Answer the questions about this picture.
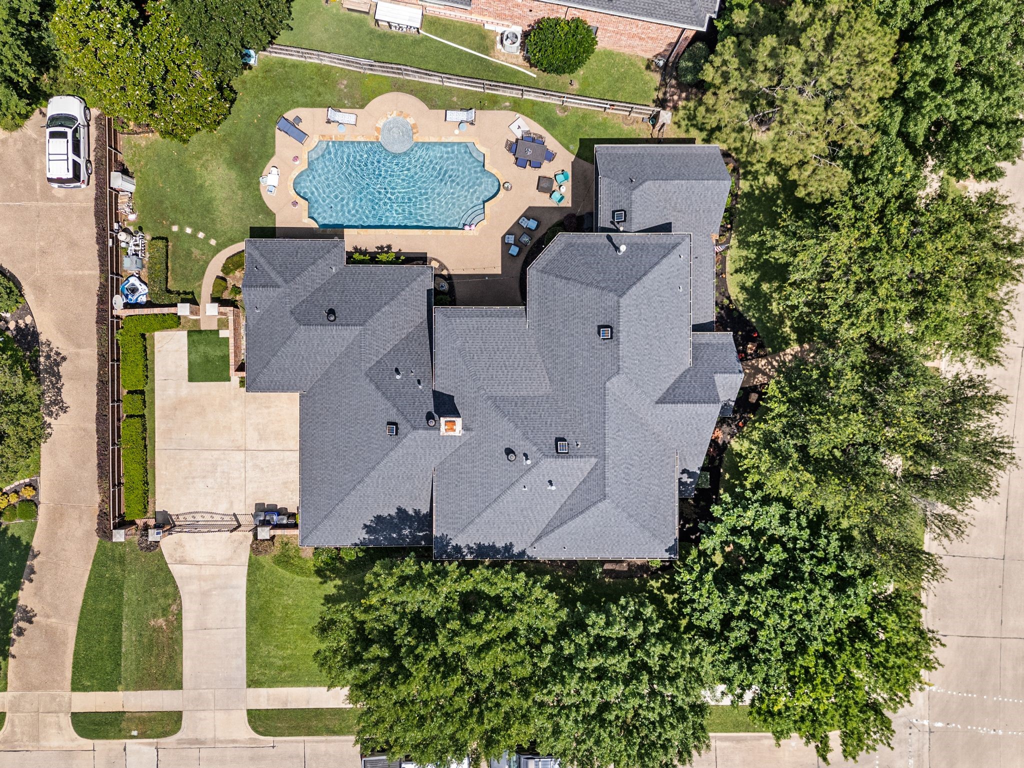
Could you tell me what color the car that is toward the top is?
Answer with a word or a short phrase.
white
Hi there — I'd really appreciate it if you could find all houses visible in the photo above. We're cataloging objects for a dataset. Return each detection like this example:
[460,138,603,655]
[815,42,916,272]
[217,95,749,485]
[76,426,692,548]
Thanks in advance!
[241,143,744,561]
[319,0,722,60]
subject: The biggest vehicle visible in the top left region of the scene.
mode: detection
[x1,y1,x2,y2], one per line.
[44,95,95,192]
